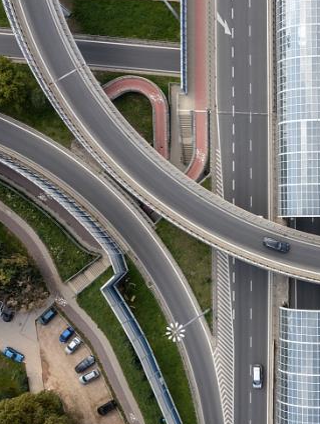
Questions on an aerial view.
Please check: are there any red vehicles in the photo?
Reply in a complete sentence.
No, there appears to be no red vehicle in this shot.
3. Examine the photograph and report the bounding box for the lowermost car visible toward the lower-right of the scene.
[251,365,263,388]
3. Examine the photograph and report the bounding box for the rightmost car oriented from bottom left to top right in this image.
[96,399,118,417]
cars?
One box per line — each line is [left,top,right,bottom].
[4,347,26,362]
[79,368,101,384]
[37,307,59,325]
[74,354,97,373]
[251,365,263,388]
[0,298,8,317]
[57,325,77,343]
[96,399,118,417]
[65,336,85,355]
[1,306,16,324]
